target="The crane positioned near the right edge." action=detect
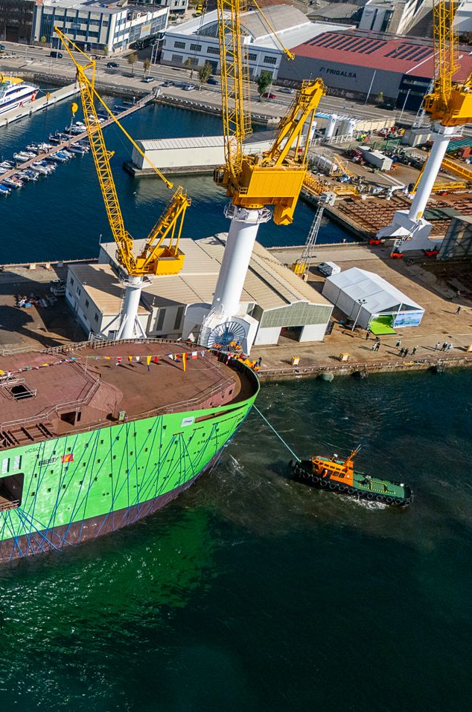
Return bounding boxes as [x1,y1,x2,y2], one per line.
[353,0,472,247]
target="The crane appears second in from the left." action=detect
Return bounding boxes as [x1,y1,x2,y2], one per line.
[176,0,323,368]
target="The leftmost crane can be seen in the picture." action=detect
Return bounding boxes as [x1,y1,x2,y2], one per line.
[45,28,195,338]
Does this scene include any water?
Yes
